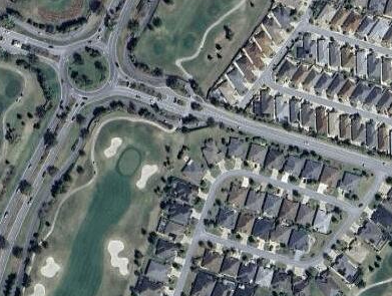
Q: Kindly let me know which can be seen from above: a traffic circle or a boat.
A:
traffic circle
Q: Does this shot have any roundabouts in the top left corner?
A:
Yes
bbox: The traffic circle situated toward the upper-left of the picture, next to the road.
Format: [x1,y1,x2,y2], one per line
[59,40,119,101]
